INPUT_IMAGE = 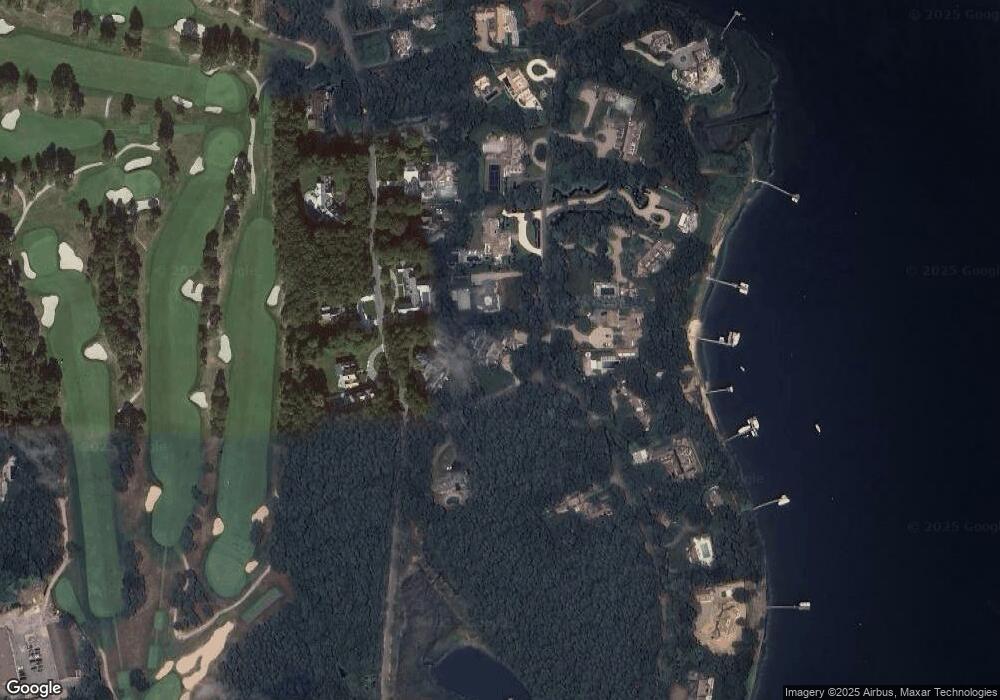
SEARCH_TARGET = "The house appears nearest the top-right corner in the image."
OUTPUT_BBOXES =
[684,40,724,94]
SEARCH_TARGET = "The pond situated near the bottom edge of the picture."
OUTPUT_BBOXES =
[432,644,531,700]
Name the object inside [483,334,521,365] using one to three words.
house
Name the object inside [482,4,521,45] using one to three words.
house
